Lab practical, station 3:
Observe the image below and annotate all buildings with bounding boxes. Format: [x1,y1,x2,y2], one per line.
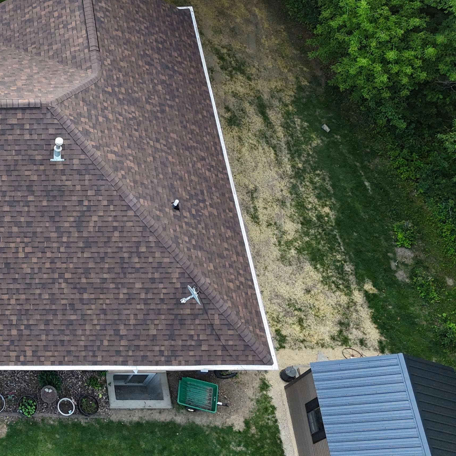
[0,0,278,378]
[284,354,456,456]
